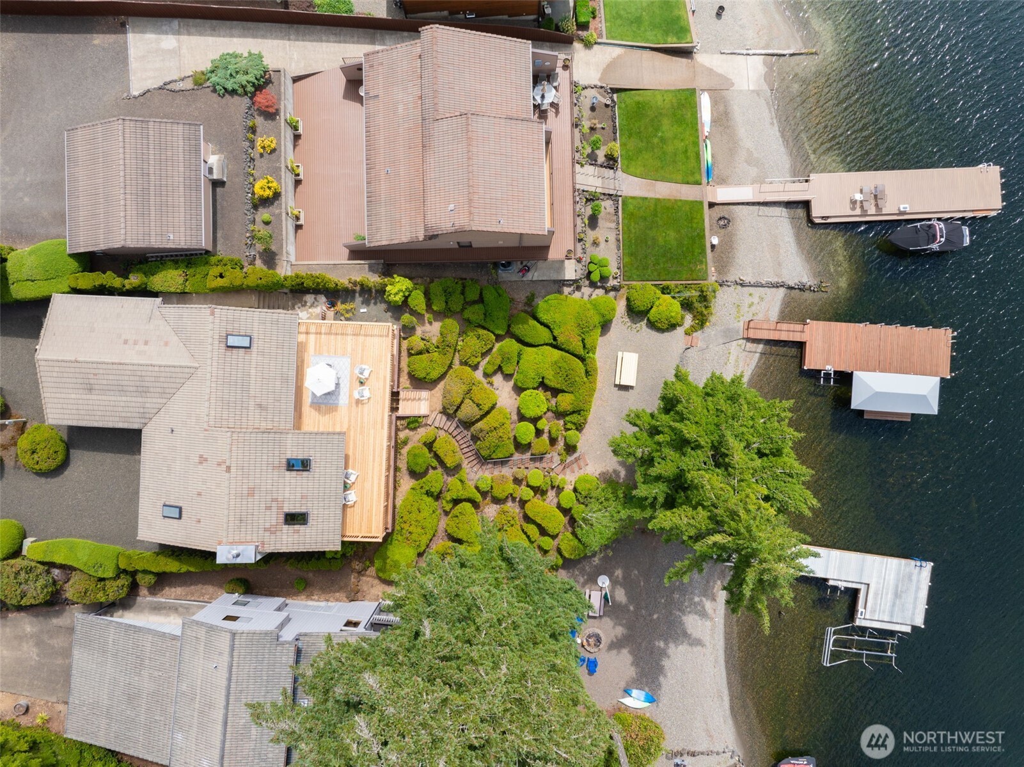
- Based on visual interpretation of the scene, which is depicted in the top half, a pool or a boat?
boat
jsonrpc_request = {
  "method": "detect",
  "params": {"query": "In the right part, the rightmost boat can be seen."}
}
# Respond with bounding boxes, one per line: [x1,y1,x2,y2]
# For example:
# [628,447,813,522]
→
[880,212,966,257]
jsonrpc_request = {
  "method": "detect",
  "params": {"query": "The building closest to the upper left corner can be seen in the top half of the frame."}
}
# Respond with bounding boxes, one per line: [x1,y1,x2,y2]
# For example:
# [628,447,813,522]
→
[63,117,213,254]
